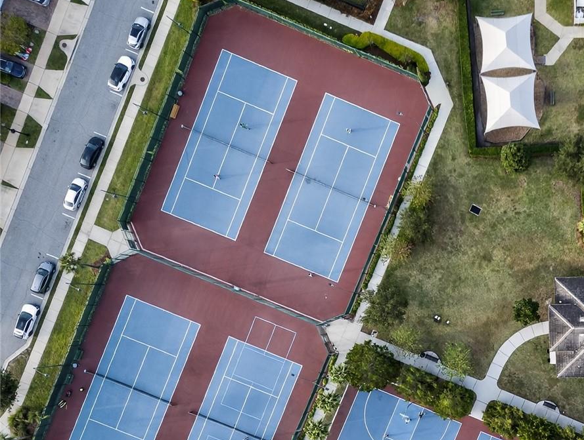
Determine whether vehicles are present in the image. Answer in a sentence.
Yes, the frame does contain a vehicle.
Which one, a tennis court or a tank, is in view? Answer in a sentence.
Of the two, only a tennis court appears.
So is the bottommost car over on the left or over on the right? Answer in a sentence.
It is on the left.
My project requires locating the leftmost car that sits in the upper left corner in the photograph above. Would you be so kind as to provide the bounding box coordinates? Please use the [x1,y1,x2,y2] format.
[0,57,30,80]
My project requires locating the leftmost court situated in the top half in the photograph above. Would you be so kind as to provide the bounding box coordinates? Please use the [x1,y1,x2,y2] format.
[131,4,328,286]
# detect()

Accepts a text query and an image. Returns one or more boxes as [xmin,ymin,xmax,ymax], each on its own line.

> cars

[13,304,41,338]
[125,16,152,50]
[64,177,90,211]
[30,261,57,295]
[0,57,30,80]
[79,136,106,170]
[108,56,135,92]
